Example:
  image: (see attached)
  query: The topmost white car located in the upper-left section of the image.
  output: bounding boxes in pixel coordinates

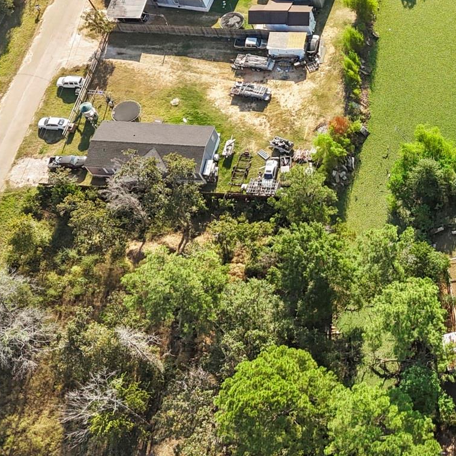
[55,76,86,91]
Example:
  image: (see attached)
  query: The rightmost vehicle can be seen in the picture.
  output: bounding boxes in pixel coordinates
[306,34,322,56]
